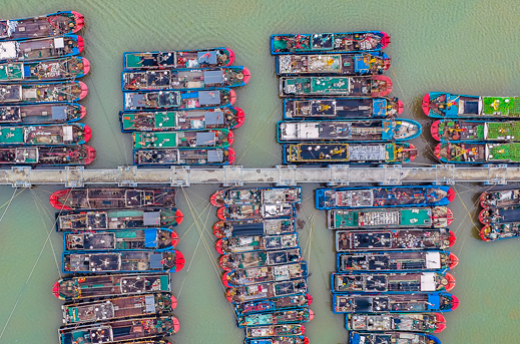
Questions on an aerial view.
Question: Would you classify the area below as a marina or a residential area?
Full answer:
What you see here is a marina.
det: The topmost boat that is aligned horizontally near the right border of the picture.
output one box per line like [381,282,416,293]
[422,93,520,120]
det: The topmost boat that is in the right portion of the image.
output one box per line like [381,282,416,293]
[268,30,390,56]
